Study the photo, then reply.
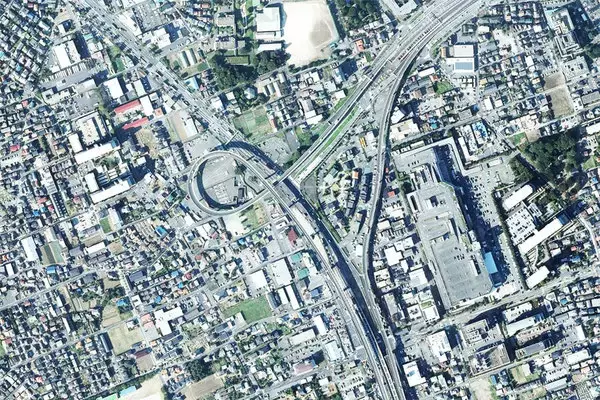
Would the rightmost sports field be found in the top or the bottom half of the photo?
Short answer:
top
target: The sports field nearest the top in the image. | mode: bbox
[281,0,341,65]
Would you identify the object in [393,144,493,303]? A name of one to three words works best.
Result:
building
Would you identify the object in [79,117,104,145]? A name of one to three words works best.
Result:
building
